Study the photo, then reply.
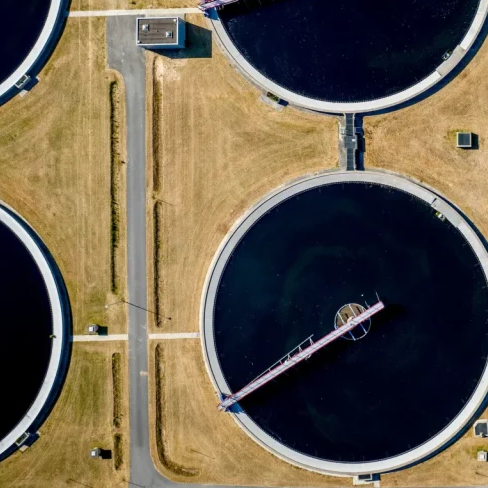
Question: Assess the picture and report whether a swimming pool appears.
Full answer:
No, there isn't any swimming pool down there.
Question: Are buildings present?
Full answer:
Yes, there is a building in the image.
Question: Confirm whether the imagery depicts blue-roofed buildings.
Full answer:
No, I can't see a single blue-roofed building in this photo.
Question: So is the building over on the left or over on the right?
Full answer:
The building appears in the left half of the scene.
